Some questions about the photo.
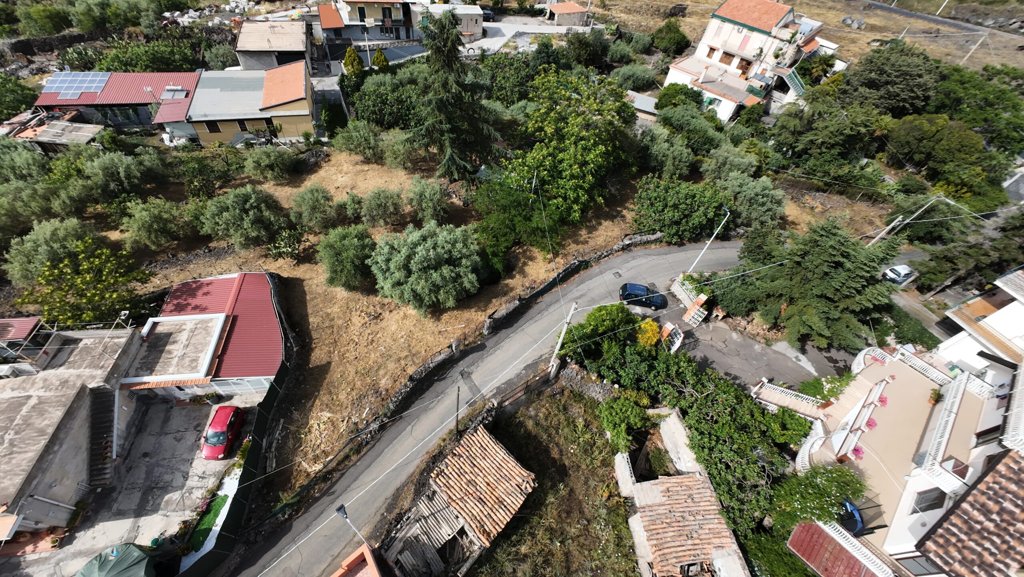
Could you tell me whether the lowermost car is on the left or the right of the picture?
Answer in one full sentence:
The lowermost car appears in the left half of the scene.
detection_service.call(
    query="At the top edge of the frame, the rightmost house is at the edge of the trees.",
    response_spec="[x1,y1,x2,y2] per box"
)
[663,0,839,119]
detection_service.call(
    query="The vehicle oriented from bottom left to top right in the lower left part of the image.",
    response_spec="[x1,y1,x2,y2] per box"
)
[199,403,256,468]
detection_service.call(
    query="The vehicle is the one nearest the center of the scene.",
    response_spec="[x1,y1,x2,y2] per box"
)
[617,286,666,317]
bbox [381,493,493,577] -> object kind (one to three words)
shed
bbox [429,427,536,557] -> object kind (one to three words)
shed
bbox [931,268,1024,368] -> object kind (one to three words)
house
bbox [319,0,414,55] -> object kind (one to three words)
house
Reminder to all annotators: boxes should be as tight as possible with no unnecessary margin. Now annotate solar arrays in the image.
[42,72,112,100]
